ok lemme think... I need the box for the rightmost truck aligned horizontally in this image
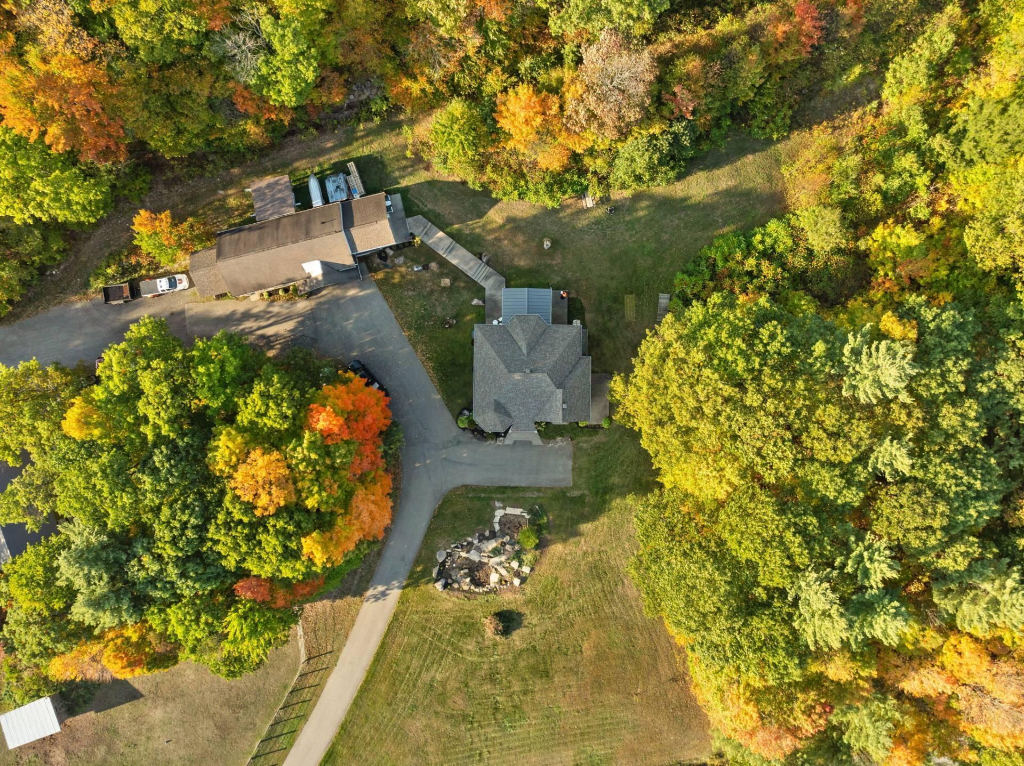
[140,274,191,298]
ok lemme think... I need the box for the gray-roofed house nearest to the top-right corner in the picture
[470,314,592,433]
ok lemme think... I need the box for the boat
[307,173,326,208]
